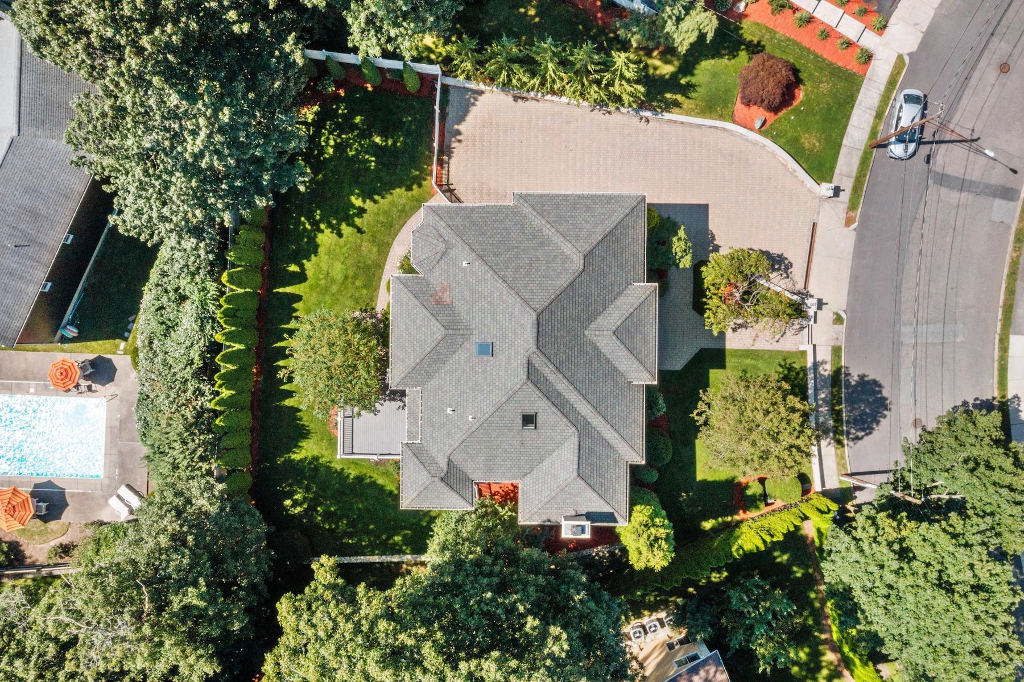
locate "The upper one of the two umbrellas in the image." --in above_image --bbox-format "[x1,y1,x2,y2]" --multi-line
[49,357,83,390]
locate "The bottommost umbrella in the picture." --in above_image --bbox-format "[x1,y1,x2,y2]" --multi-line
[0,485,38,530]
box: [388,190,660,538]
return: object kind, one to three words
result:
house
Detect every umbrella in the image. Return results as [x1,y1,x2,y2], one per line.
[49,357,83,390]
[0,485,38,530]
